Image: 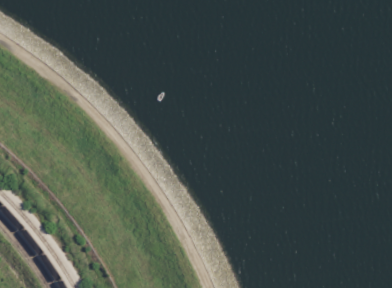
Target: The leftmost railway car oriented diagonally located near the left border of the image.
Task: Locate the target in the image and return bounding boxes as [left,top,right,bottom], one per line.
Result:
[0,206,24,232]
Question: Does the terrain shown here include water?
Yes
